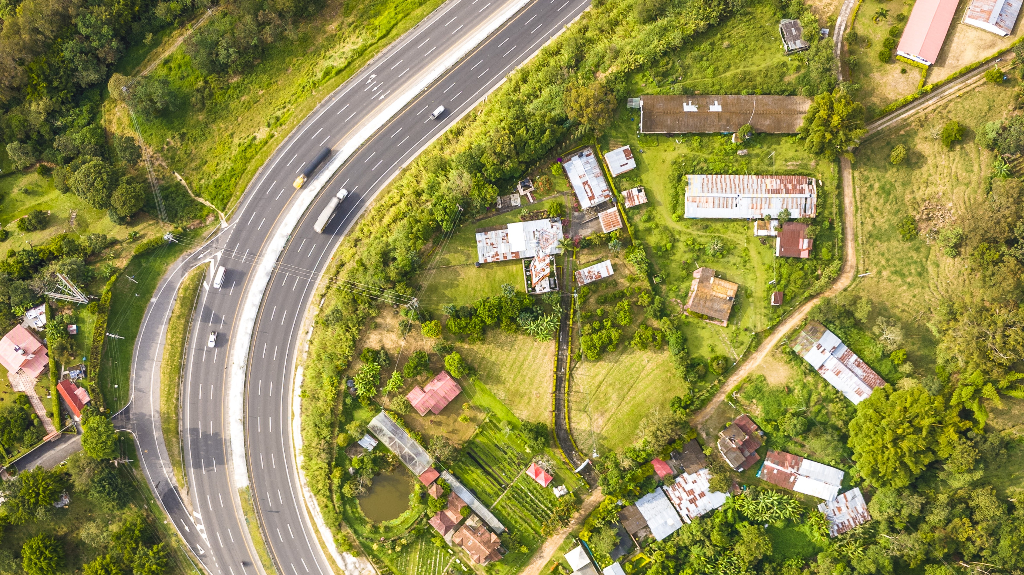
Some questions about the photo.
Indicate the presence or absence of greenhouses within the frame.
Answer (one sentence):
Yes, a greenhouse can be made out from above.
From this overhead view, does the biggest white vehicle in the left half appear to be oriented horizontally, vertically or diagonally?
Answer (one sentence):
I'd say the biggest white vehicle in the left half is aligned diagonally in the picture.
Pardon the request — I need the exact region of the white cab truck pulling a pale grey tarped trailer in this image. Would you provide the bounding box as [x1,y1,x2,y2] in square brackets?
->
[315,191,350,234]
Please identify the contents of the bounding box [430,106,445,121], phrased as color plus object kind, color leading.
white vehicle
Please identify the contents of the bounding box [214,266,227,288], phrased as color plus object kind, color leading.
white vehicle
